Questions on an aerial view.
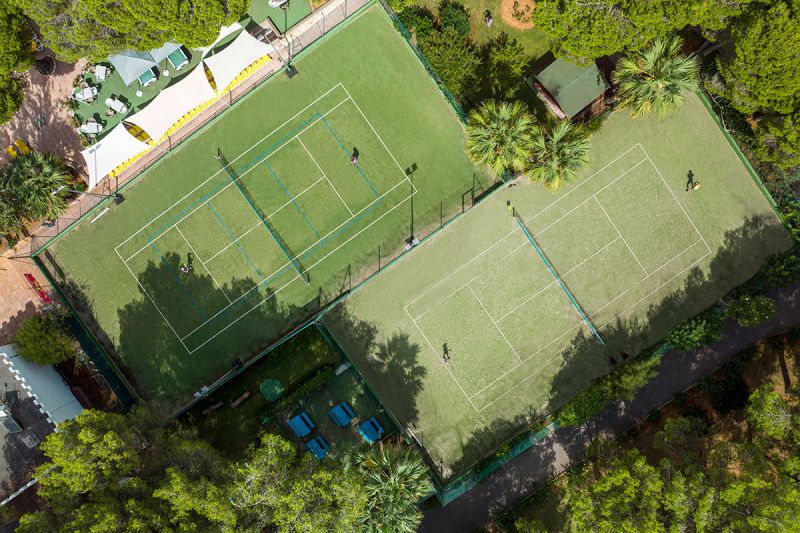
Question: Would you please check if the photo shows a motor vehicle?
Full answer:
No, no motor vehicle is visible in the view.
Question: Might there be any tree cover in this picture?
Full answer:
Yes, the picture does contain tree cover.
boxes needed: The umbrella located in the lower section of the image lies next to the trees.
[260,378,284,403]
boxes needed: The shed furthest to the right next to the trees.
[529,52,609,122]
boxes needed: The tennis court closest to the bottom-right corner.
[316,72,795,485]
